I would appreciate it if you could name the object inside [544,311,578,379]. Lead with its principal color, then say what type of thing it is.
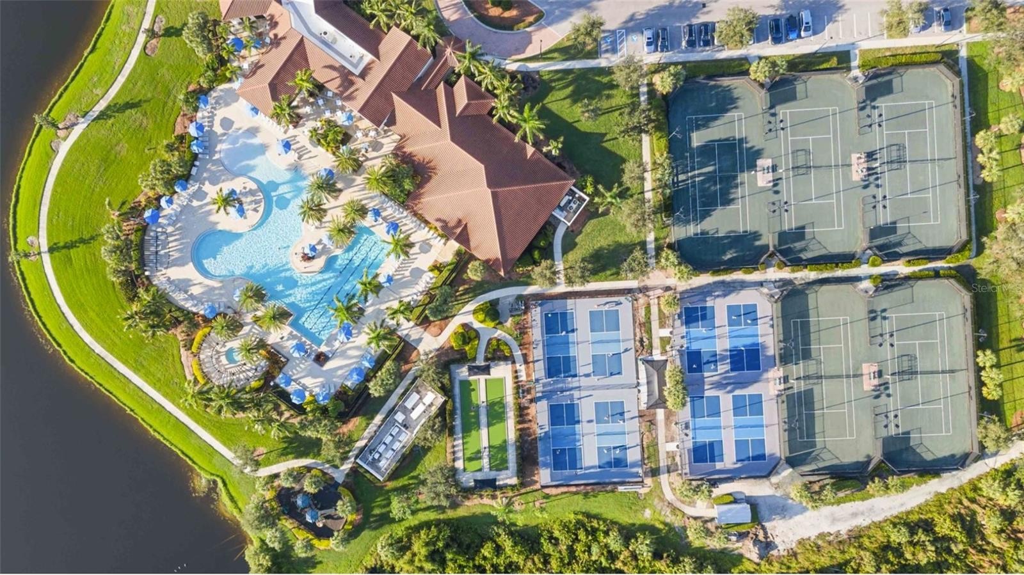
blue sports court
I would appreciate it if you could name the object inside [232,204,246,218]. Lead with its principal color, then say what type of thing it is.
blue umbrella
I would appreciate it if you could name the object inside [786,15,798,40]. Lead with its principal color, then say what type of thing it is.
blue vehicle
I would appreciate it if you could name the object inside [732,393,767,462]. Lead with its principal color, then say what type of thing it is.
blue sports court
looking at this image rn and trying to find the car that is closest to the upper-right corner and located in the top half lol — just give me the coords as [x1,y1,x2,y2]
[937,7,950,32]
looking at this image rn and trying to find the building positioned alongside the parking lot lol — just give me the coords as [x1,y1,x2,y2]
[215,0,574,275]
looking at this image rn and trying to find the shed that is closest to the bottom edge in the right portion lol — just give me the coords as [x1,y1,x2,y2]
[716,503,753,525]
